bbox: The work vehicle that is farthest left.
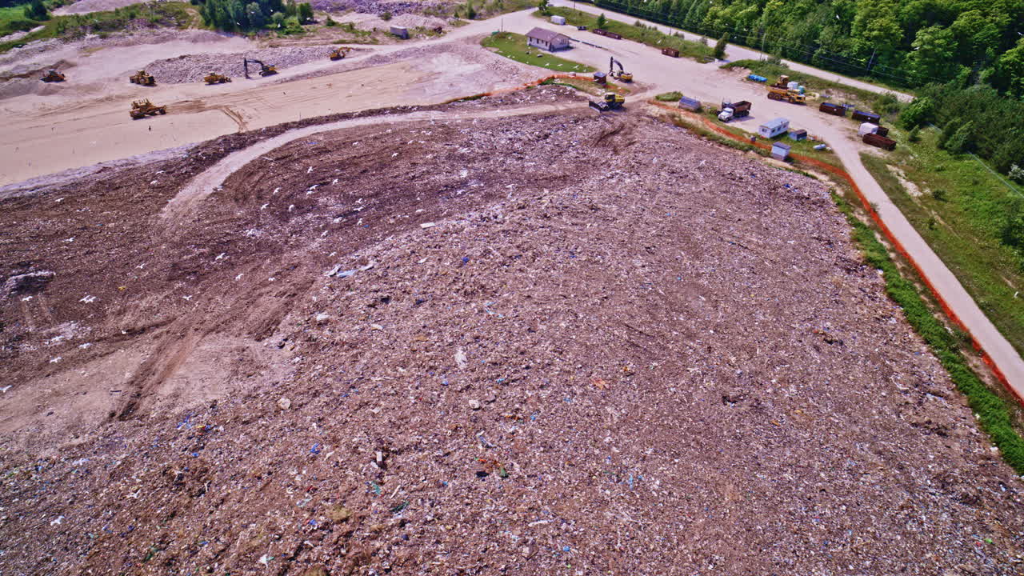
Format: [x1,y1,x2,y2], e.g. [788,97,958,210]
[36,67,64,81]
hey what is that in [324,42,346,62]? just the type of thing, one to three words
work vehicle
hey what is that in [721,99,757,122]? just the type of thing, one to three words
truck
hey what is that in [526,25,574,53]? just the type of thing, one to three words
house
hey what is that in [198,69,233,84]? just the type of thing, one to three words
work vehicle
